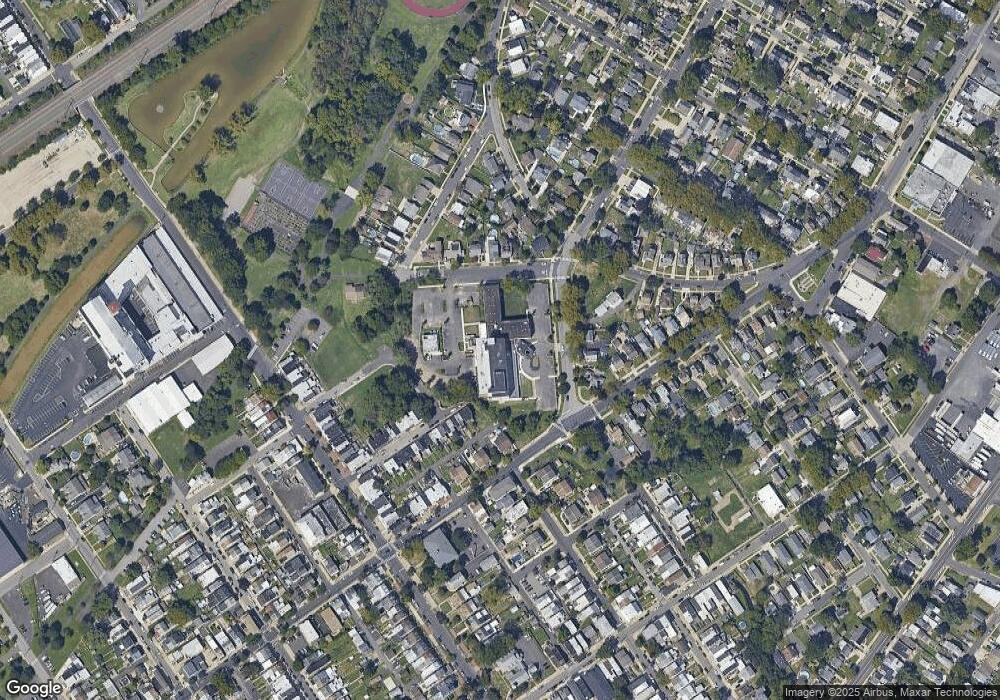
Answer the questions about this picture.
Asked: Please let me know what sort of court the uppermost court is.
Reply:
basketball court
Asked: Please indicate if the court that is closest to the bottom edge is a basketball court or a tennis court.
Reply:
tennis court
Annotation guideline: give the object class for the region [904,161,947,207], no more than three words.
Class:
building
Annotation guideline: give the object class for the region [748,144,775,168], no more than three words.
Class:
house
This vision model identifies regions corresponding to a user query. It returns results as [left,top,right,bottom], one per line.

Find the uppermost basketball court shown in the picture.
[263,161,327,219]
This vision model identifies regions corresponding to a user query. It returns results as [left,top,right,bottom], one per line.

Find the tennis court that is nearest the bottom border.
[240,192,309,255]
